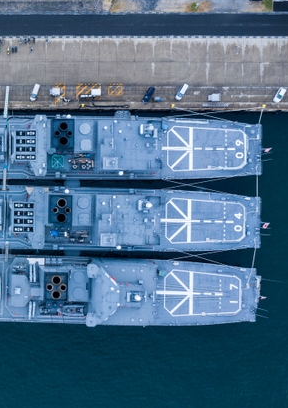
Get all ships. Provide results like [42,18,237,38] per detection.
[0,253,287,326]
[0,185,270,250]
[0,114,274,180]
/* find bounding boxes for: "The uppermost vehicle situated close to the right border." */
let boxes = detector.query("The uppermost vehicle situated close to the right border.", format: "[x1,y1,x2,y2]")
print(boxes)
[274,86,288,102]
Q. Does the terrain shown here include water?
Yes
